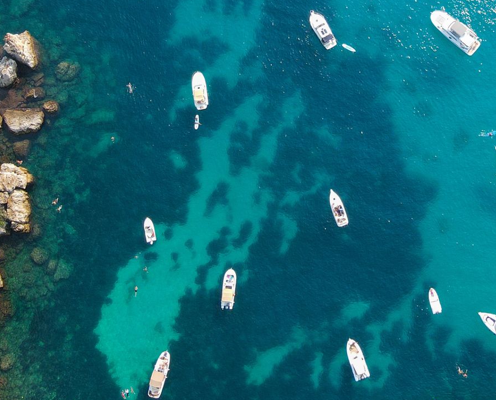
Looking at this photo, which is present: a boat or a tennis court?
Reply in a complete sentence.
Of the two, only a boat appears.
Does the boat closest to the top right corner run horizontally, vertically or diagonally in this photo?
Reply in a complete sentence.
The boat closest to the top right corner is laid out diagonally.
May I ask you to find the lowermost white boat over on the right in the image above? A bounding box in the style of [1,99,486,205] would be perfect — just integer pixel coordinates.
[347,337,370,383]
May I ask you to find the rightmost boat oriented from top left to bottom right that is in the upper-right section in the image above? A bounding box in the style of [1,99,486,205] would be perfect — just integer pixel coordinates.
[431,10,485,60]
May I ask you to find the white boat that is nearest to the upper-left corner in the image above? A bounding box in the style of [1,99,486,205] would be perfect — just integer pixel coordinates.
[192,71,209,114]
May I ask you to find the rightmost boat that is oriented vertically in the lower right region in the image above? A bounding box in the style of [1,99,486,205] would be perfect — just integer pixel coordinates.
[428,287,443,315]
